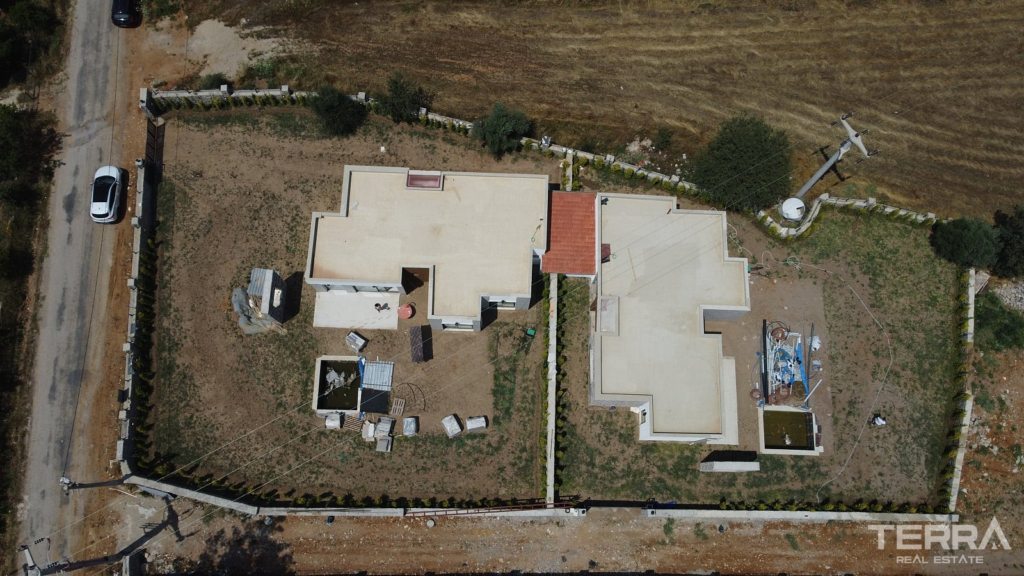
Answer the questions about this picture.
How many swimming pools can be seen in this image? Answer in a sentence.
The photo contains 2 swimming pools.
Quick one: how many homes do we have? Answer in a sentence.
Looking from above, you can make out 2 homes.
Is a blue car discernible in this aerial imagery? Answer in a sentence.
No, no blue car can be seen from above.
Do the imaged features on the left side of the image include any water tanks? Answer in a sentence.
No, no water tank appears on the left side of the image.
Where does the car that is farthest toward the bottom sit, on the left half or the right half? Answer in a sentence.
It is on the left.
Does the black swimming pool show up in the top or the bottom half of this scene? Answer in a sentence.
The black swimming pool sits in the bottom half of the picture.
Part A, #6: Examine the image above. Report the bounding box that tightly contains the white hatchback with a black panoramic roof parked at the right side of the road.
[88,167,123,222]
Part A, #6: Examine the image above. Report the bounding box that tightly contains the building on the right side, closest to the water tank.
[583,194,750,445]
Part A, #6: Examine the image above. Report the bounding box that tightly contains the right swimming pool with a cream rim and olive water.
[757,406,821,456]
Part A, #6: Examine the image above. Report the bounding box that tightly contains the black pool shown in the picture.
[313,356,362,412]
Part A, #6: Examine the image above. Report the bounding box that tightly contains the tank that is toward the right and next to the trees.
[782,198,815,229]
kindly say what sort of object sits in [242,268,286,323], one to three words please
shed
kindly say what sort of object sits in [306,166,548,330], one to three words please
house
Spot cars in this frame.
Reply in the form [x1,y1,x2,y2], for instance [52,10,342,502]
[108,0,137,23]
[88,167,123,222]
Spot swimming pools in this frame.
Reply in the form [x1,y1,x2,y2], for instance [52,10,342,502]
[757,406,821,456]
[313,356,362,412]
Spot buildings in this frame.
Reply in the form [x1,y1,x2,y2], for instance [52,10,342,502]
[306,166,548,330]
[583,194,750,445]
[242,268,286,323]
